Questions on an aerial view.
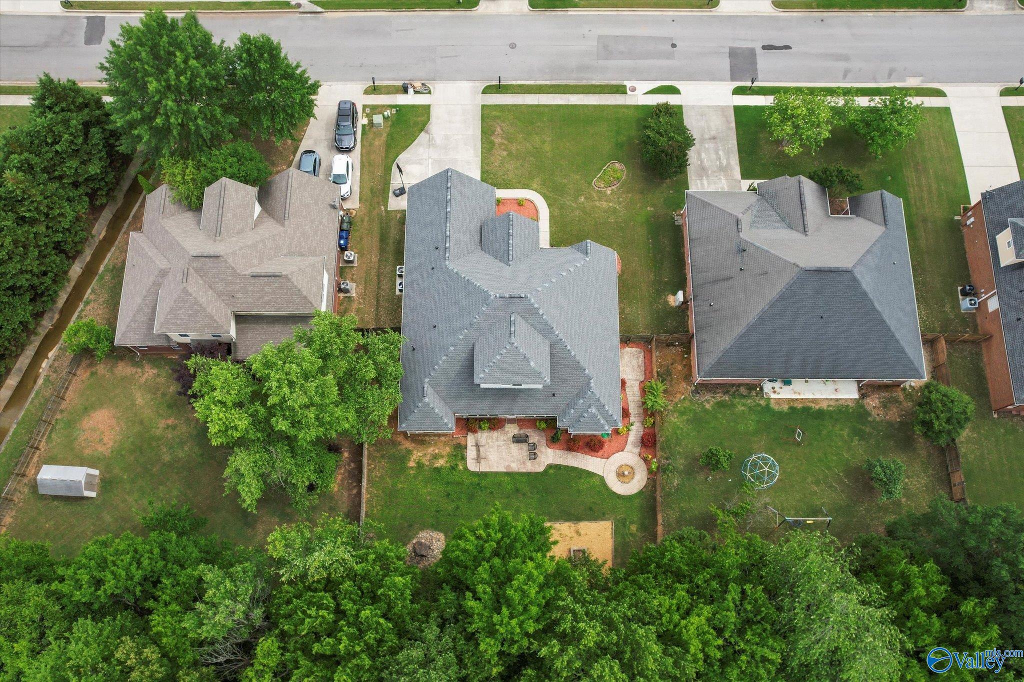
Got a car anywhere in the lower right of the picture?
No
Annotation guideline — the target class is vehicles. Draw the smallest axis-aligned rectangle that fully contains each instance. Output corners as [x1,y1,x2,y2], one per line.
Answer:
[333,105,358,152]
[301,148,324,178]
[331,156,356,200]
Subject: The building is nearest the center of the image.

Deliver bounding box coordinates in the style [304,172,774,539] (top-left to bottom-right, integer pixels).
[397,168,622,440]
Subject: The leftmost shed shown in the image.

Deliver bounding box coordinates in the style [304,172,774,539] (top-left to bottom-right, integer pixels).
[36,464,102,497]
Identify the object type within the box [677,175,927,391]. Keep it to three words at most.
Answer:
house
